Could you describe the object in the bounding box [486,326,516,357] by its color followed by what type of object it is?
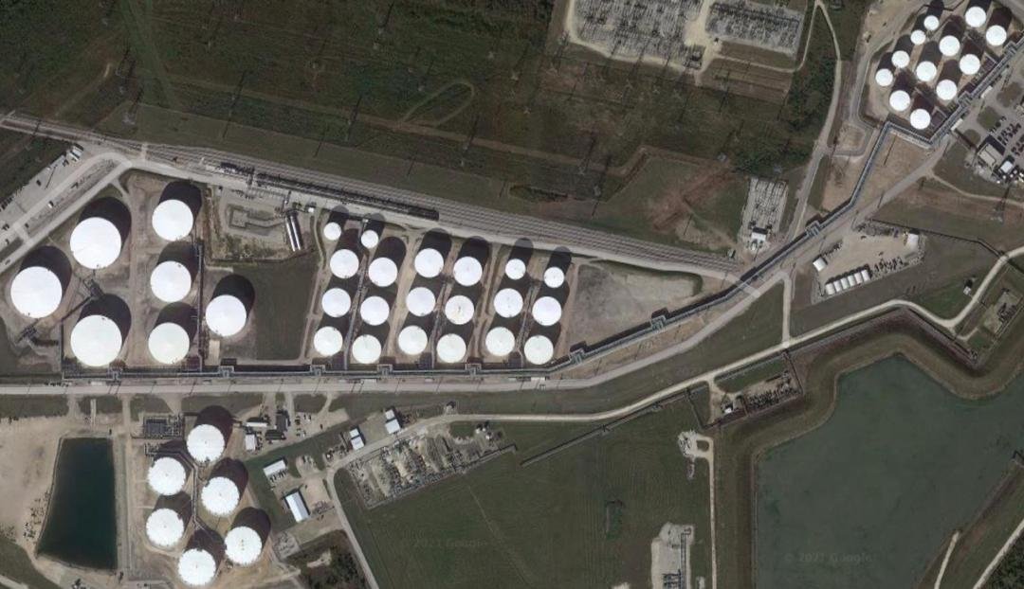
white storage tank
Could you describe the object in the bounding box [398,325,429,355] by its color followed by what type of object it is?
white storage tank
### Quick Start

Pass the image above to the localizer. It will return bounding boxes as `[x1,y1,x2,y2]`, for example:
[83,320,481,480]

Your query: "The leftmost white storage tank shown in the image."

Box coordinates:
[11,266,64,318]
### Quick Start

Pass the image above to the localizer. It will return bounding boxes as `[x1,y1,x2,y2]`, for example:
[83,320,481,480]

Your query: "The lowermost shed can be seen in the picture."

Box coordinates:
[285,492,309,522]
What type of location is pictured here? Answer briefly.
industrial area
